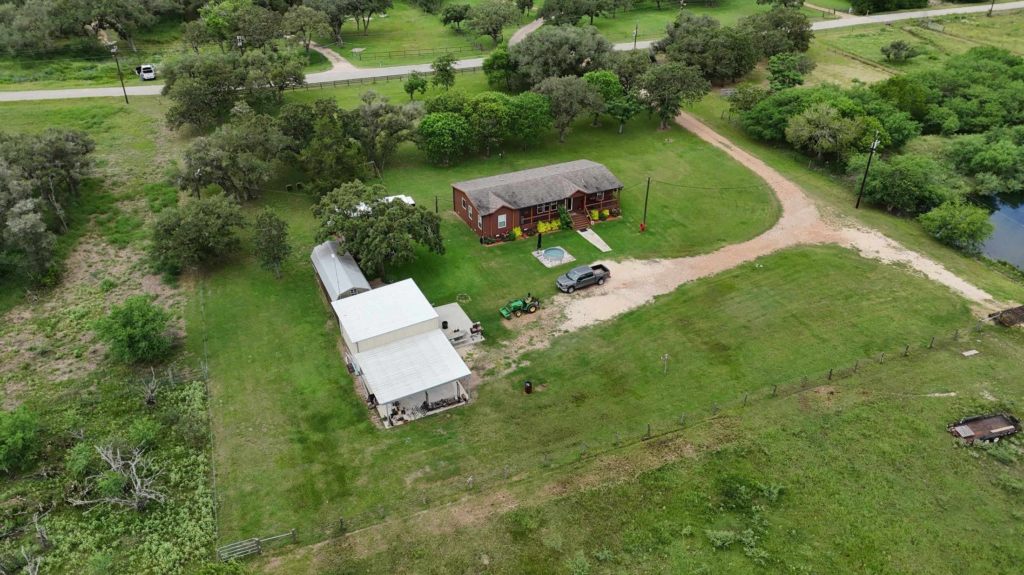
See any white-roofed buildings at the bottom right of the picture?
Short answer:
No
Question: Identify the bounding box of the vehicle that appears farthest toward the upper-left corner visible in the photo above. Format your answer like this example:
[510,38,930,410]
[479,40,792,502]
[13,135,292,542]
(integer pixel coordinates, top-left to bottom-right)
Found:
[138,65,157,79]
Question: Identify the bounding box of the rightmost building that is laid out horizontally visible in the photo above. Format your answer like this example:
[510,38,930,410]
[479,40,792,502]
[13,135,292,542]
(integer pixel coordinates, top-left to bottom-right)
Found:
[449,159,626,243]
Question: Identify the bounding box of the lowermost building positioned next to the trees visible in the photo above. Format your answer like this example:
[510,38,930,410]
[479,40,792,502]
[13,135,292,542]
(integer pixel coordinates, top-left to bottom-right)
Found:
[330,279,472,430]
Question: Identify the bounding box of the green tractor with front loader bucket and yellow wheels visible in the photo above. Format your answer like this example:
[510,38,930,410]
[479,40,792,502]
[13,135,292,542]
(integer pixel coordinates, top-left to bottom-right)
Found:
[500,290,545,321]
